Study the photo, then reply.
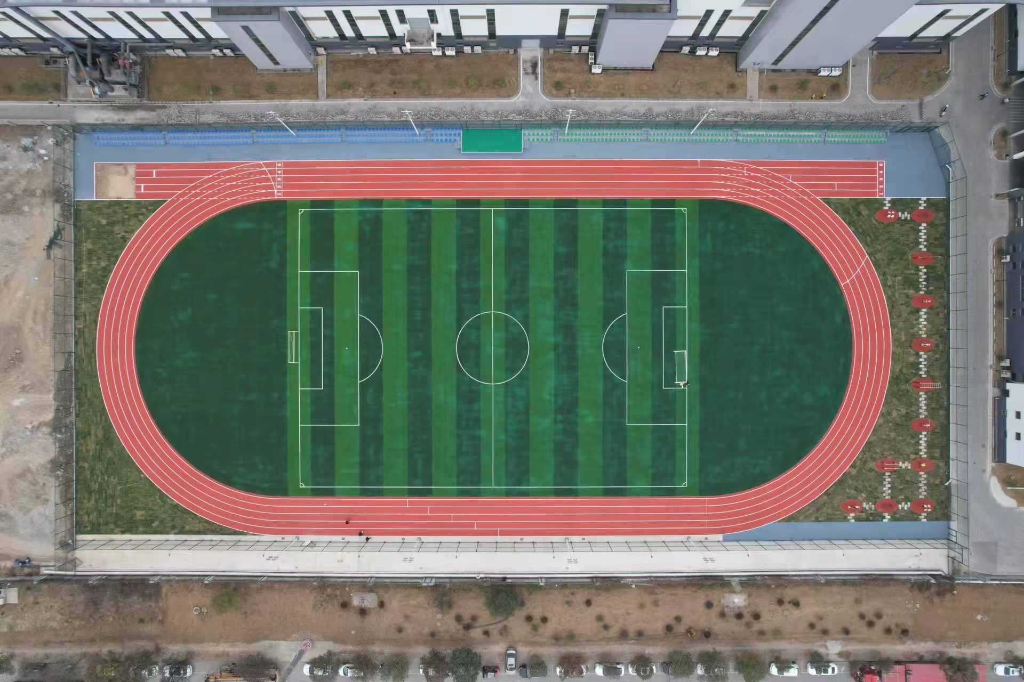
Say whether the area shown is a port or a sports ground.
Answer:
sports ground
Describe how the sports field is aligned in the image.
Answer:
from side to side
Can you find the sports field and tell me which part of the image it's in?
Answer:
center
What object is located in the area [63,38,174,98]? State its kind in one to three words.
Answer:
building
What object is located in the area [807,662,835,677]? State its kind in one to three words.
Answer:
car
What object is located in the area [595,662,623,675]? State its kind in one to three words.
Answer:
vehicle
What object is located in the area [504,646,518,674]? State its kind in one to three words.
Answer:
car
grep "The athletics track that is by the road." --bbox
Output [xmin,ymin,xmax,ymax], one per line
[94,160,892,536]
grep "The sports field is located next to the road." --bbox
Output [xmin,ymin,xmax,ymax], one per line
[136,200,852,496]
